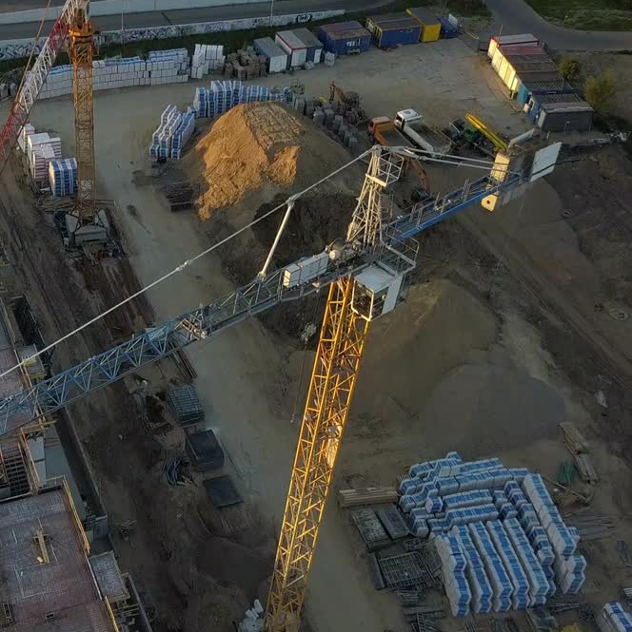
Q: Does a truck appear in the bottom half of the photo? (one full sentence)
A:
No, no truck appears in the bottom half of the photo.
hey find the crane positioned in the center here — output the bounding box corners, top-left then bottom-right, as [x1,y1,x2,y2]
[0,120,563,632]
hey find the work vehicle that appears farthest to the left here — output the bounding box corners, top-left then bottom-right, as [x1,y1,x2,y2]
[302,80,383,125]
